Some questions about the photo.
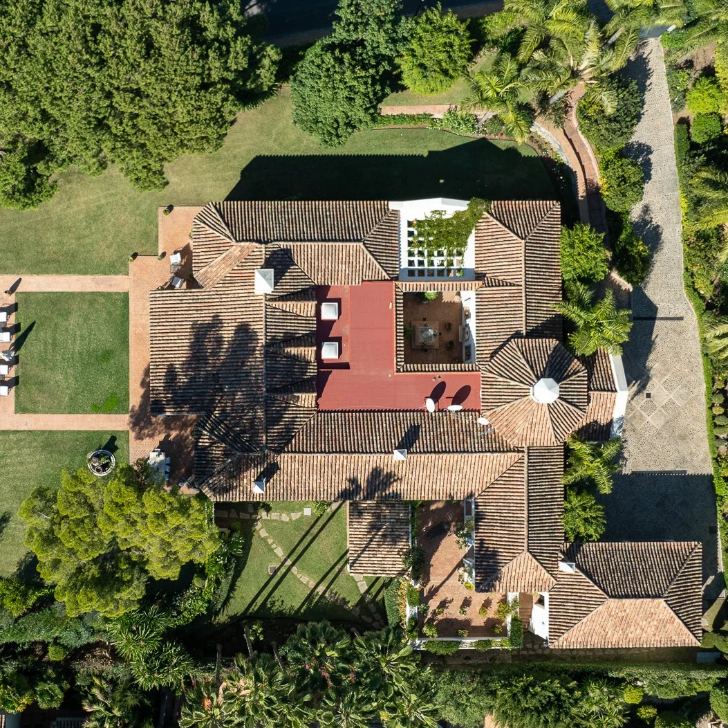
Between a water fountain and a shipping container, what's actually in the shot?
water fountain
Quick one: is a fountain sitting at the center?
Yes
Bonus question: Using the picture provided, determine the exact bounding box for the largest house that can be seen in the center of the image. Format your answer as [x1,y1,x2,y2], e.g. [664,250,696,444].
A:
[149,198,706,650]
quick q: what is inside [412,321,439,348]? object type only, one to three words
fountain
